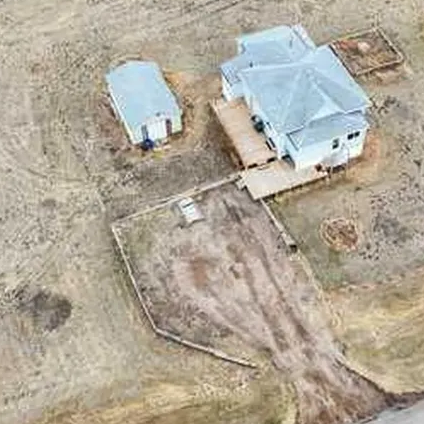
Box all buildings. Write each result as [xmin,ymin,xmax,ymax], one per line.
[105,60,184,143]
[218,22,375,168]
